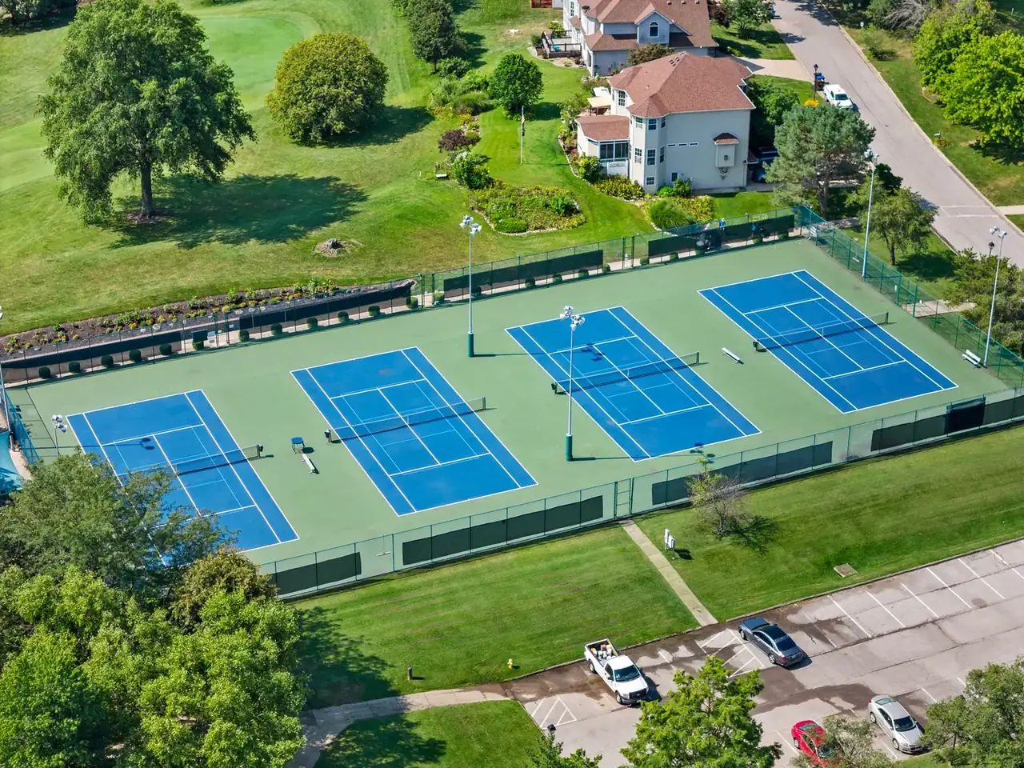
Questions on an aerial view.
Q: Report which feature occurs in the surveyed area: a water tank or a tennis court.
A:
tennis court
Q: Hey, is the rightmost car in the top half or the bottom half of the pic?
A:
bottom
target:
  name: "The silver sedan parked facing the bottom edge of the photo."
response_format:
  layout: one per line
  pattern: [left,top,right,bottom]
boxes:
[868,694,930,749]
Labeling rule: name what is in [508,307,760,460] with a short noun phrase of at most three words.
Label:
tennis court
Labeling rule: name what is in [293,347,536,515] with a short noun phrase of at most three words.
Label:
tennis court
